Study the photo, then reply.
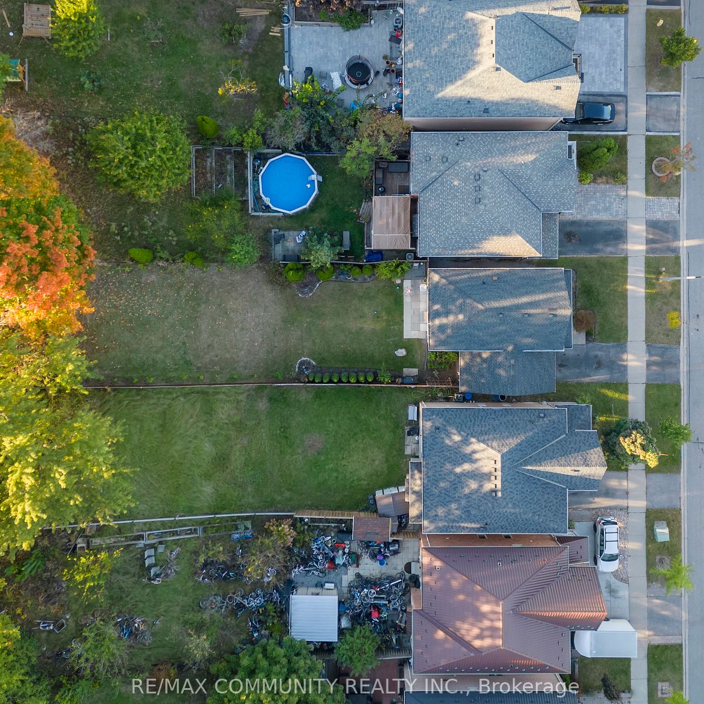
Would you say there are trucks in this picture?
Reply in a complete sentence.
Yes, a truck is visible in the scene.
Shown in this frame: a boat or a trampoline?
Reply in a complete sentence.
Visible in the photo is a trampoline.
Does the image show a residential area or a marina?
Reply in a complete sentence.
The area seen from above is a residential area.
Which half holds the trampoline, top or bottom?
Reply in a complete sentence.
Seen from above, the trampoline lies in the top half of the view.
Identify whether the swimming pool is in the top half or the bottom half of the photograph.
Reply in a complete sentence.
The top half of the photo is where the swimming pool is.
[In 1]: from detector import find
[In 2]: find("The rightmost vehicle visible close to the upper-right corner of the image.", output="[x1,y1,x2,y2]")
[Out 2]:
[560,100,617,127]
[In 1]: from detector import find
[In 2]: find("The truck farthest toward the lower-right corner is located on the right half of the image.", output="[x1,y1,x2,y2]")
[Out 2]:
[571,617,637,657]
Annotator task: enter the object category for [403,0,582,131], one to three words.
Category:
house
